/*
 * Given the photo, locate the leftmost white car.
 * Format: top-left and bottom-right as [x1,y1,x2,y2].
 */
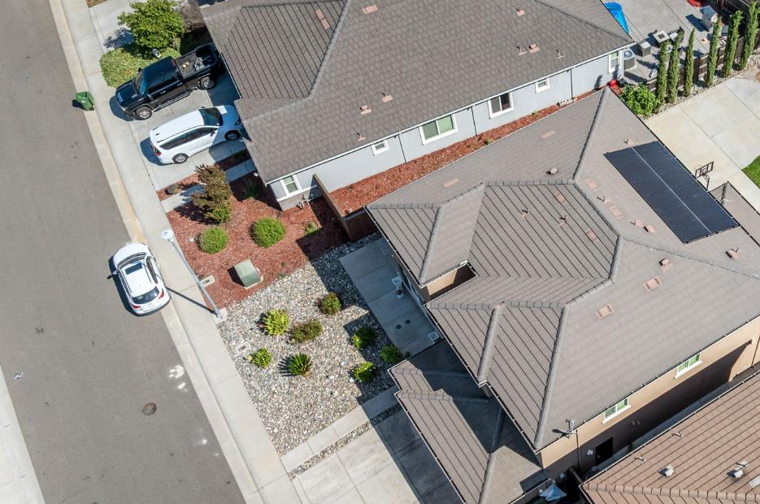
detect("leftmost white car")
[114,245,176,325]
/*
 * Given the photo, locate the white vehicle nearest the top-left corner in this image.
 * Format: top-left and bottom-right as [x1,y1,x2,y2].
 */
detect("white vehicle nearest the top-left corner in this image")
[141,104,244,164]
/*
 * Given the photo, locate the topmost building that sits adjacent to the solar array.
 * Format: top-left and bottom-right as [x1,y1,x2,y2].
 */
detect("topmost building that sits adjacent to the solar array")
[199,0,636,210]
